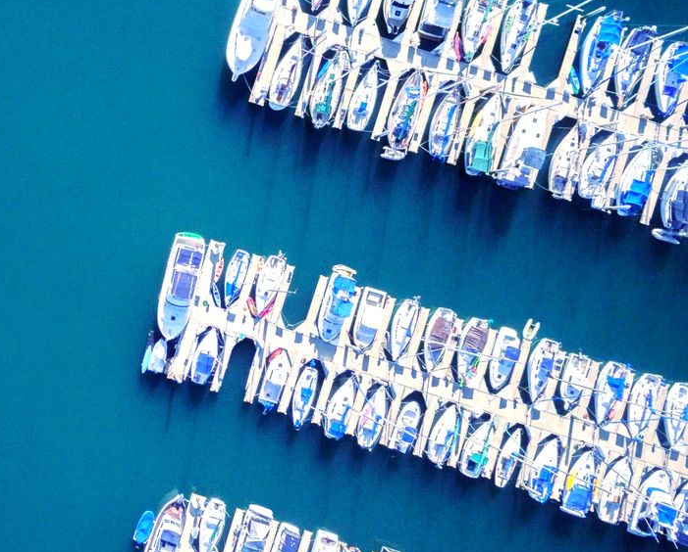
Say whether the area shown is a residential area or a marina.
marina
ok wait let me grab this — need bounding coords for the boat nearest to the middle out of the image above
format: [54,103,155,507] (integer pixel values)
[333,264,359,279]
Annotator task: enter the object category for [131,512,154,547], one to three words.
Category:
boat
